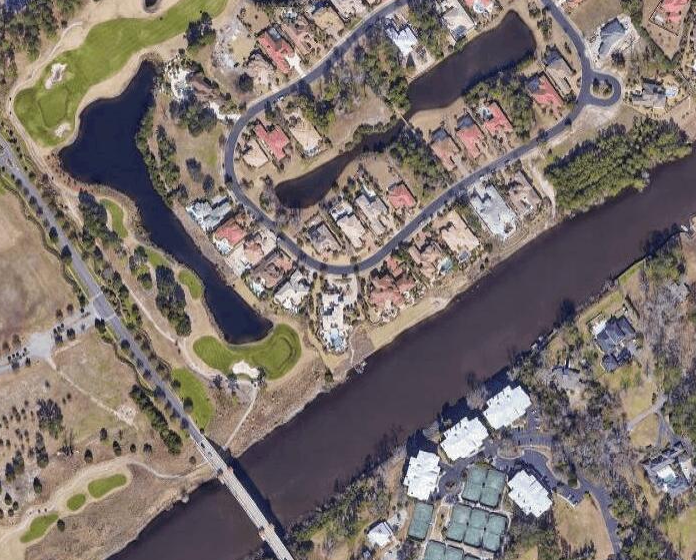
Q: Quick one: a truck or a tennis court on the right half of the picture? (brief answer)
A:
tennis court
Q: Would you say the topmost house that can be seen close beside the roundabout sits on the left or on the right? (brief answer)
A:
right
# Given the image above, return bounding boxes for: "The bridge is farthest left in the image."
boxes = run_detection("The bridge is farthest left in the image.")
[195,436,293,560]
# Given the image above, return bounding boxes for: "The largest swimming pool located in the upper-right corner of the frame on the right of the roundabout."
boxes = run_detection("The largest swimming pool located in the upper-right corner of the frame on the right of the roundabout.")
[664,85,680,98]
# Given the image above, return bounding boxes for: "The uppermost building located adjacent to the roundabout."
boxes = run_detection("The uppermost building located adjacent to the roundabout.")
[597,21,628,56]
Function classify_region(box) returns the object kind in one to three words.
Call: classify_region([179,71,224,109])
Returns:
house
